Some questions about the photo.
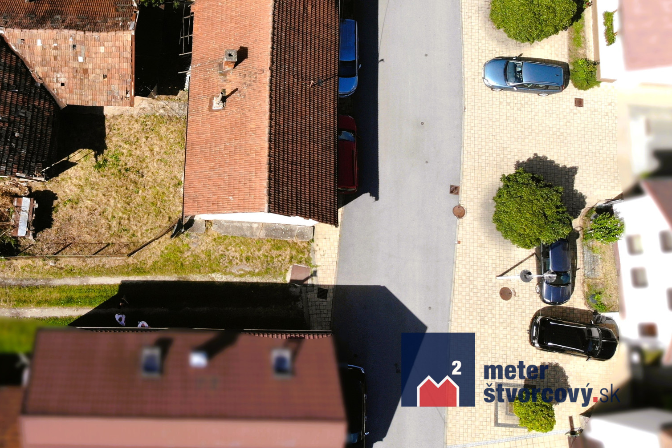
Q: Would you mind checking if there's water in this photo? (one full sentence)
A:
No, there's no water in this view.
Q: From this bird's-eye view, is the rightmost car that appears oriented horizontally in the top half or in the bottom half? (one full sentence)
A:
It is in the bottom half that the rightmost car that appears oriented horizontally appears.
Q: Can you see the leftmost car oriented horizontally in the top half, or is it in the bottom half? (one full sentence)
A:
Seen from above, the leftmost car oriented horizontally lies in the top half of the view.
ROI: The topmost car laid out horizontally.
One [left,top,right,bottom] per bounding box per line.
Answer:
[480,52,572,97]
